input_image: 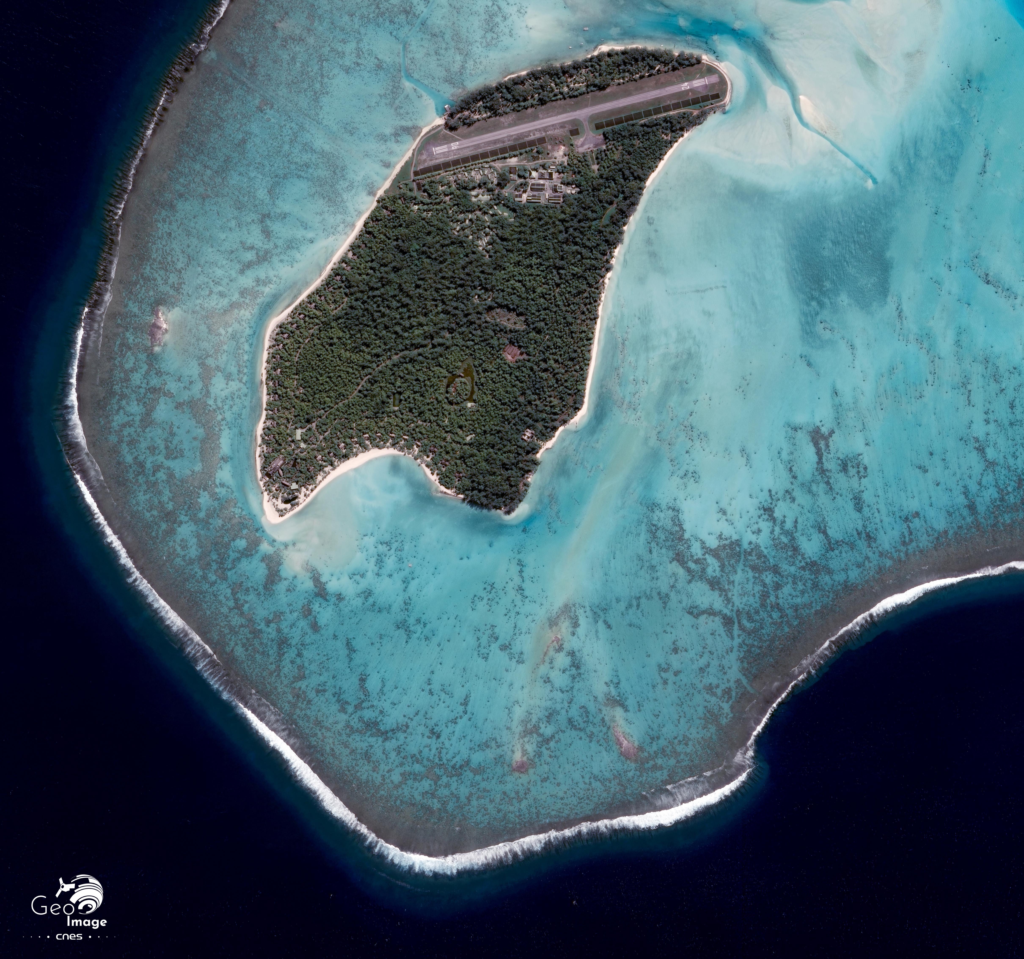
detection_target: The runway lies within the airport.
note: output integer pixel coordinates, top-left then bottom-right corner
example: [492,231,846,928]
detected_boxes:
[432,74,719,155]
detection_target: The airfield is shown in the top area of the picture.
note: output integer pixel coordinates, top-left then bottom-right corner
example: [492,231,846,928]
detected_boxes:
[414,62,727,174]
